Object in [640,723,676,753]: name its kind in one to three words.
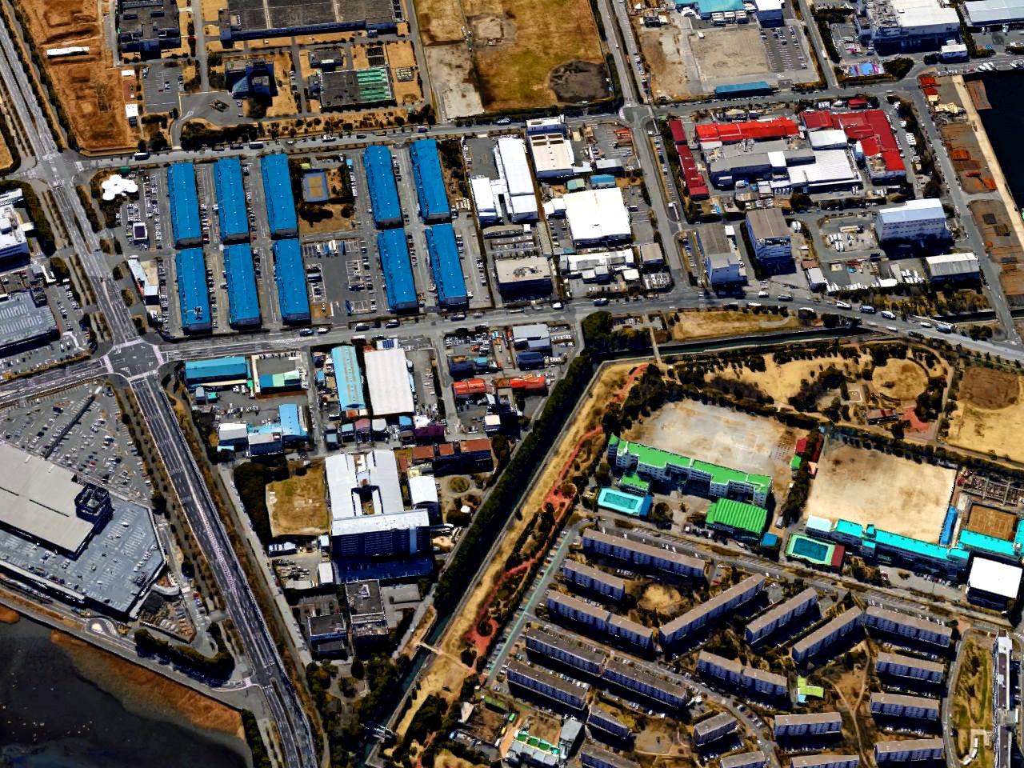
playground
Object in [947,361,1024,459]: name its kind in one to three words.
baseball field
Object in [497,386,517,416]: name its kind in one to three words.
building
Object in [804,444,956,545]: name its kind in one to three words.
sports field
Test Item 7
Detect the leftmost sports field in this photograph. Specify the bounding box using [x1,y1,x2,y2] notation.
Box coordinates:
[621,399,803,479]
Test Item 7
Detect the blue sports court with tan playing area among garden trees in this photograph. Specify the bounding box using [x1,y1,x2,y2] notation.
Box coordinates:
[302,170,329,201]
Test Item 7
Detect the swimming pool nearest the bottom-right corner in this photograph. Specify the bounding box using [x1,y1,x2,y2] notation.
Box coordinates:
[786,535,845,568]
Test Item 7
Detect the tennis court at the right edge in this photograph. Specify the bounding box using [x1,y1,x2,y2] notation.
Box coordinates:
[968,505,1018,540]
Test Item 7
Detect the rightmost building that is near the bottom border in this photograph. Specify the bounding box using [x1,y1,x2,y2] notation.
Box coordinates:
[991,628,1019,768]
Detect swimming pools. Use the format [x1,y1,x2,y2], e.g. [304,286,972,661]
[786,535,845,568]
[598,489,653,517]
